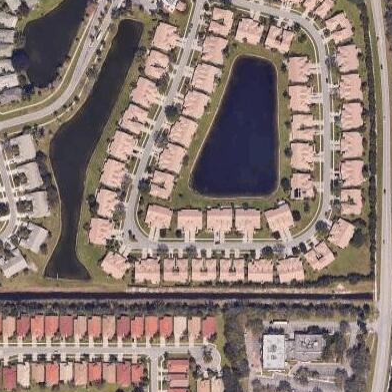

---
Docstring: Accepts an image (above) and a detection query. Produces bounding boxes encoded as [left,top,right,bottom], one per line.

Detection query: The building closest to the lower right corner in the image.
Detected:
[263,334,324,370]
